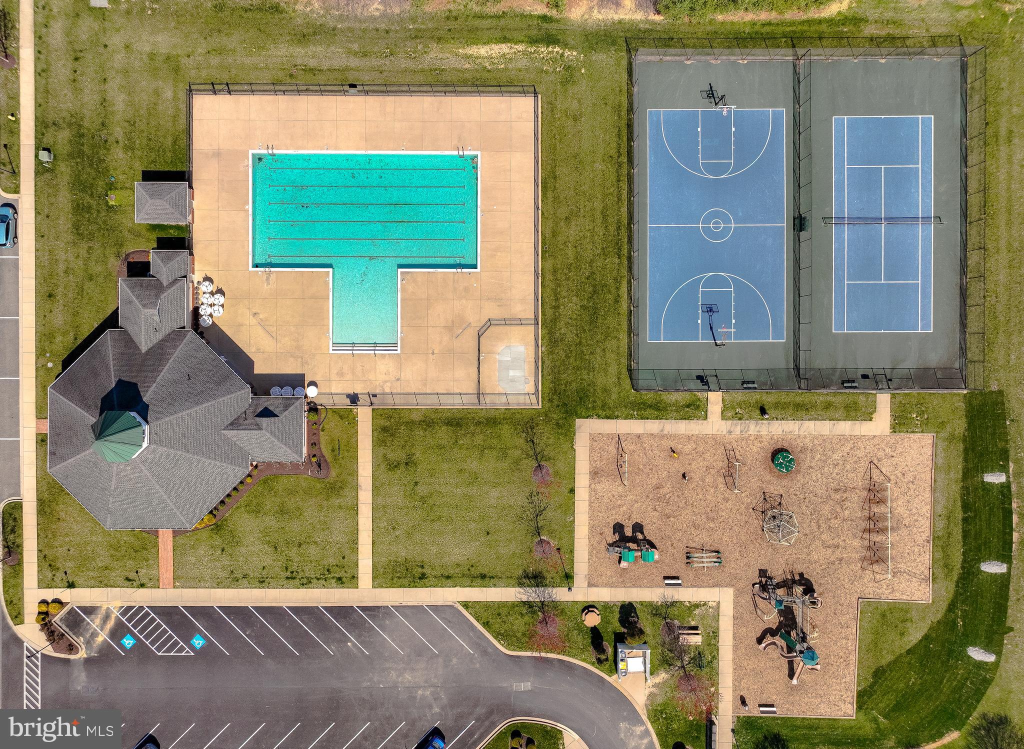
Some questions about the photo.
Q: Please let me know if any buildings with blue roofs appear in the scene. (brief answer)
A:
No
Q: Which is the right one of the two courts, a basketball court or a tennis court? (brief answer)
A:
tennis court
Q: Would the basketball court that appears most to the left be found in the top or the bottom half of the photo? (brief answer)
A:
top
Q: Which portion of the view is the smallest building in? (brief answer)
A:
top left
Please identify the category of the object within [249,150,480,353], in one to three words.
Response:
swimming pool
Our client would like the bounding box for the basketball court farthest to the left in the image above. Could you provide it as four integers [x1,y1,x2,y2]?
[635,60,799,391]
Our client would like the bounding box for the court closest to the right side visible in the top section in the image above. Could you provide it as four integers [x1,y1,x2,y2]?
[800,60,966,390]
